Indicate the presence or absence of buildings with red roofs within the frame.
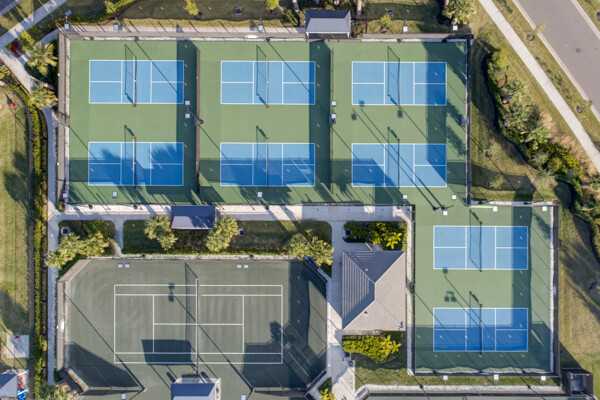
No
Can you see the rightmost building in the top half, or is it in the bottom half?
bottom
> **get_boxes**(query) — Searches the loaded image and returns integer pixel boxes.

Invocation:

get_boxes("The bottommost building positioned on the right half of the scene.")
[340,251,407,331]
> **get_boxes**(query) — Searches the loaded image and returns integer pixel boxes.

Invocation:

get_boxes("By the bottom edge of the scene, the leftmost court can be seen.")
[70,257,327,400]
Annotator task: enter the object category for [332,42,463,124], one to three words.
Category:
sports court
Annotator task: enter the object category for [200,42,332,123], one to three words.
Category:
sports court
